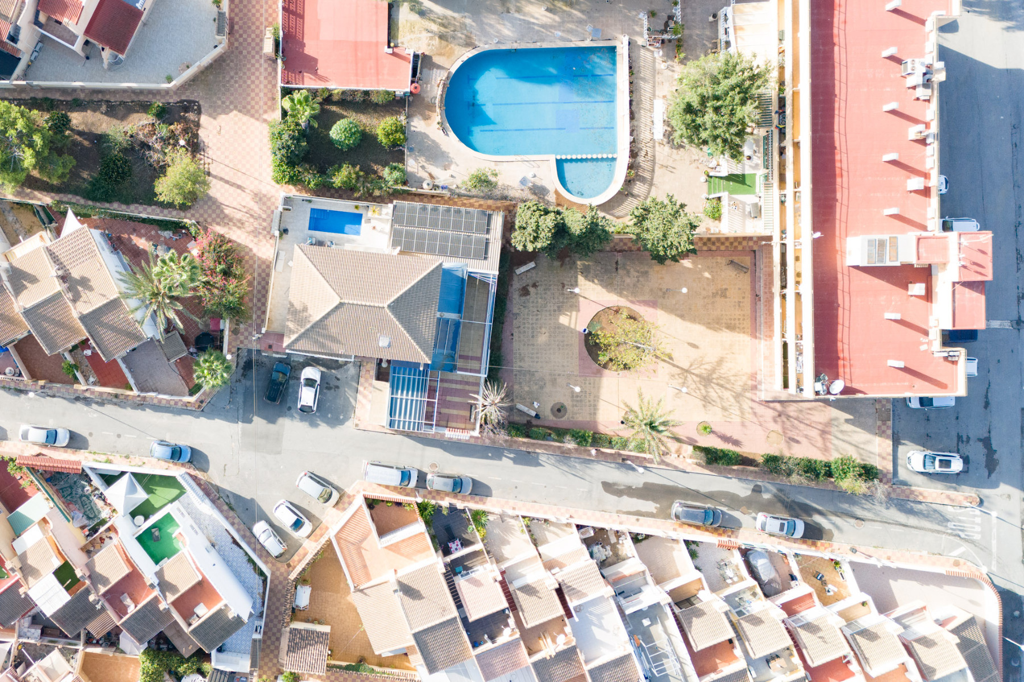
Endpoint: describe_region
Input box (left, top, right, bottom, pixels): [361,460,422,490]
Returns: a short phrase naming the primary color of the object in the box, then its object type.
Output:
white van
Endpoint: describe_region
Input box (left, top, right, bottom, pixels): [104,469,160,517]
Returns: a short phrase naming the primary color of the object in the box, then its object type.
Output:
white gazebo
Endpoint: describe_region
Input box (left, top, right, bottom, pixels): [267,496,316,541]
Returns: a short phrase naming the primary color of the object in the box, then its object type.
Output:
white car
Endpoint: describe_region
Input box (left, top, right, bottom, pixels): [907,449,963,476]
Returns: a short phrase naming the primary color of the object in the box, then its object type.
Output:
white car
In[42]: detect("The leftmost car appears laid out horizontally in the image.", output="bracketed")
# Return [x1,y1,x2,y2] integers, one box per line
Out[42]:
[13,423,76,450]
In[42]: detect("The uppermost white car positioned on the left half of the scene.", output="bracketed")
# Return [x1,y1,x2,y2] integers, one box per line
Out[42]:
[296,363,323,415]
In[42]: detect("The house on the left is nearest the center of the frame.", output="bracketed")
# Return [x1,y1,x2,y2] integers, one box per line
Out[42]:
[282,243,444,370]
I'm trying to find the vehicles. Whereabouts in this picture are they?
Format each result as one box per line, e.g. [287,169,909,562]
[669,500,723,529]
[753,511,806,540]
[261,355,294,408]
[361,460,422,490]
[13,423,76,450]
[248,517,291,562]
[144,438,196,465]
[938,329,985,347]
[967,354,982,374]
[296,363,323,415]
[937,174,953,196]
[907,449,963,476]
[424,470,475,498]
[938,210,983,231]
[906,396,959,412]
[290,467,344,507]
[267,496,316,541]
